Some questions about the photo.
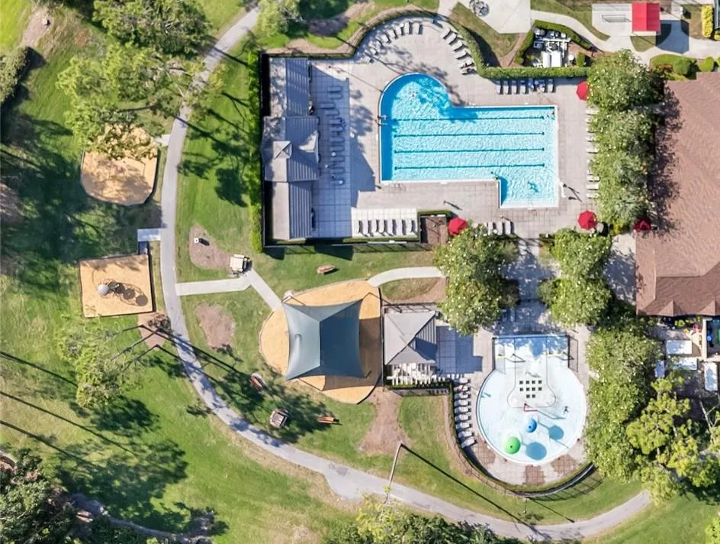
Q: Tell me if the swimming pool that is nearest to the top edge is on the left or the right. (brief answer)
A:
right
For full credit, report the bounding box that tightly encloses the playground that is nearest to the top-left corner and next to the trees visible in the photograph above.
[81,125,159,205]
